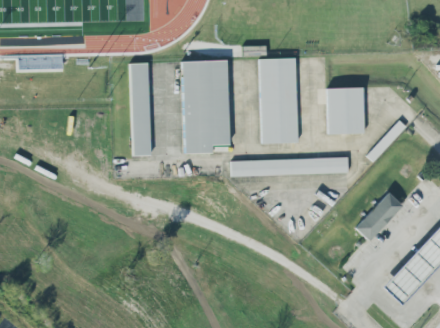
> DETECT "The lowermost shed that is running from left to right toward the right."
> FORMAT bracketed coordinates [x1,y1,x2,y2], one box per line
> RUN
[229,156,349,176]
